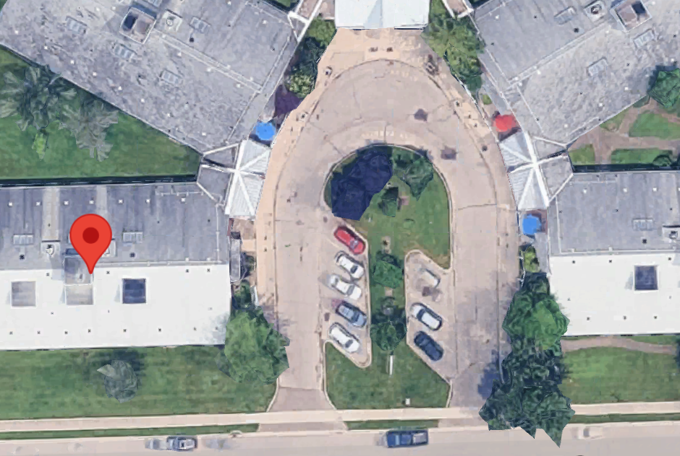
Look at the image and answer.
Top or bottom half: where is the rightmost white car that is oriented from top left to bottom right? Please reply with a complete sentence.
It is in the bottom half that the rightmost white car that is oriented from top left to bottom right appears.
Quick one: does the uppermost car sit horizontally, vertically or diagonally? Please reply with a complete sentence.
In this picture, the uppermost car lies diagonally.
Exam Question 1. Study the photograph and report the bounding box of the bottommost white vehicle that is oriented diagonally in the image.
[325,322,362,356]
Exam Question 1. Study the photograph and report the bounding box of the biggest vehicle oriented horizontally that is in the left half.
[165,436,198,453]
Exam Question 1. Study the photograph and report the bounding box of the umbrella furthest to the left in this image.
[254,120,275,142]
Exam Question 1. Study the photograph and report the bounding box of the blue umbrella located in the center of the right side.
[520,213,541,235]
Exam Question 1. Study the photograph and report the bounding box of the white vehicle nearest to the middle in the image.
[332,251,366,283]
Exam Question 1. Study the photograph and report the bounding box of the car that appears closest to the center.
[333,223,368,256]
